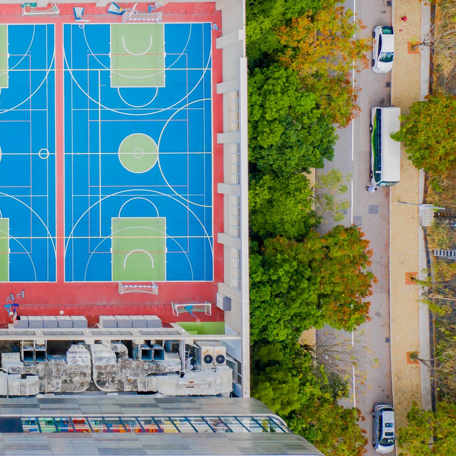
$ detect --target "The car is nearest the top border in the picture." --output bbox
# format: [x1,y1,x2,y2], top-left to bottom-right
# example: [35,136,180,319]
[372,26,399,72]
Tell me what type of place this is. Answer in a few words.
sports ground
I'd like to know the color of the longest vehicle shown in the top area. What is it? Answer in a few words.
white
